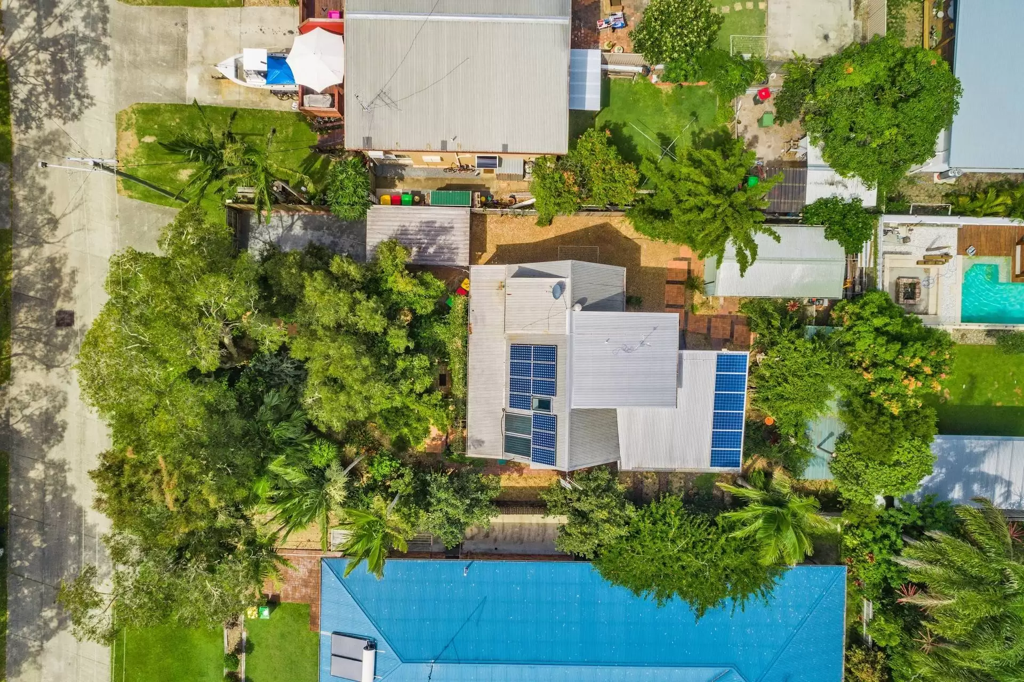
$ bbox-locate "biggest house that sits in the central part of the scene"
[465,259,751,474]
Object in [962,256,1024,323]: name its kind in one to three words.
swimming pool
